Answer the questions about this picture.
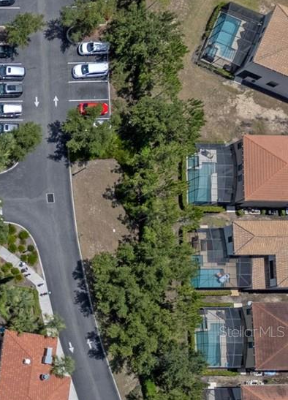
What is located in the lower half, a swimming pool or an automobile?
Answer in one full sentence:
It is a swimming pool that can be seen in the lower half.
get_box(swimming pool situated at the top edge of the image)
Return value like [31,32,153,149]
[207,10,241,57]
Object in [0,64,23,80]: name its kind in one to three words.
car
